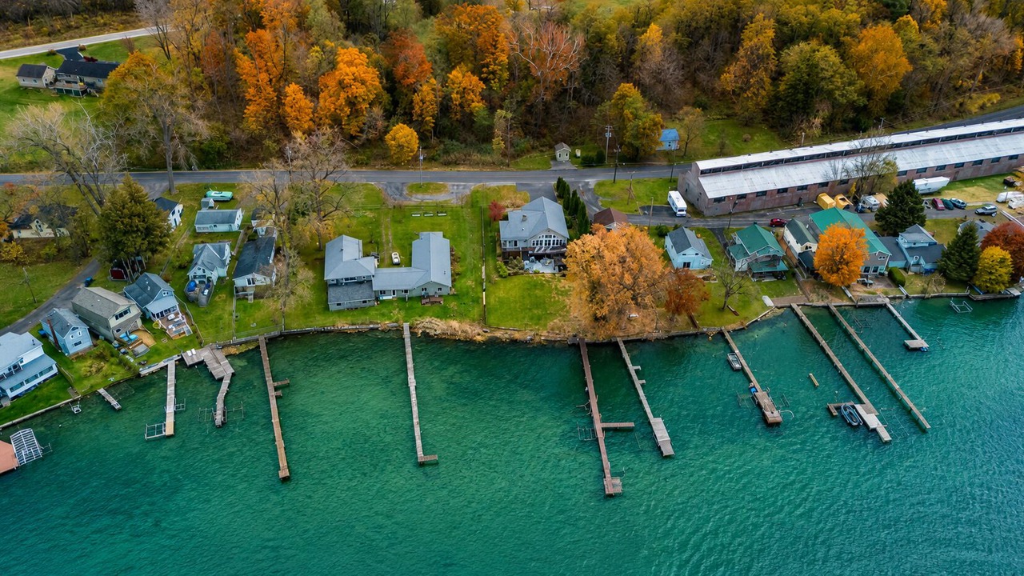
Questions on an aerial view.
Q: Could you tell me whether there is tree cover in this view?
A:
Yes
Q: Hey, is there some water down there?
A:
Yes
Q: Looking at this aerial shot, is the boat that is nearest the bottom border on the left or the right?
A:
right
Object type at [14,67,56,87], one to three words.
building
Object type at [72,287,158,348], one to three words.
house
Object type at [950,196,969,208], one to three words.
vehicle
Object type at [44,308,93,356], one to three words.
house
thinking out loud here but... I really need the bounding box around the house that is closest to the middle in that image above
[493,196,569,274]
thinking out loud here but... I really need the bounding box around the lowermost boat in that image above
[840,408,866,428]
